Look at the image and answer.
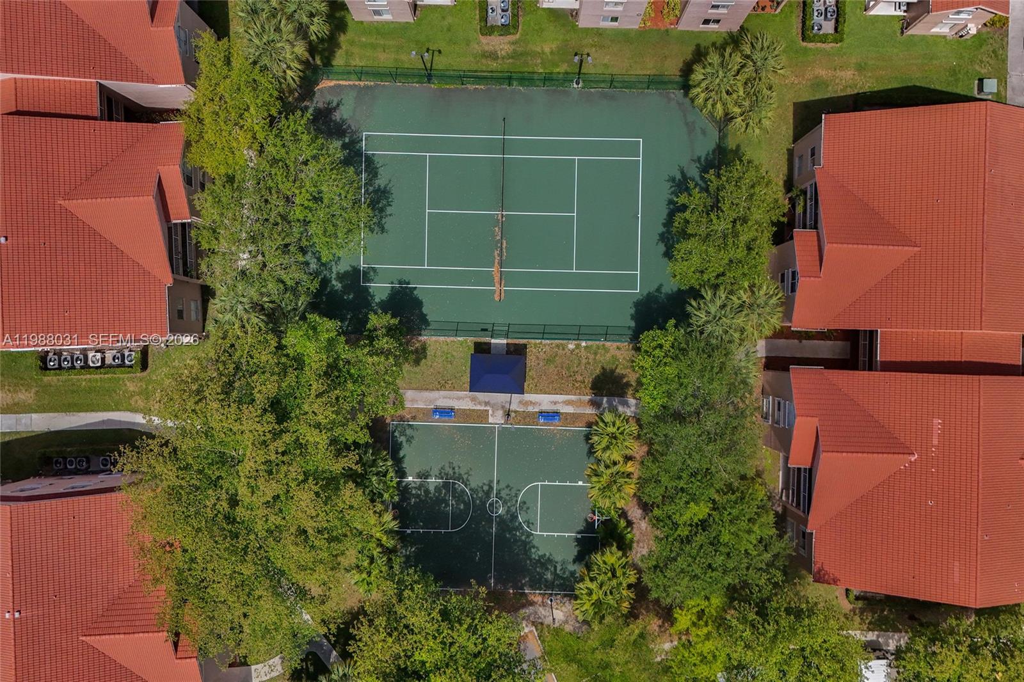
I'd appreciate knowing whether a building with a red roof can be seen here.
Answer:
Yes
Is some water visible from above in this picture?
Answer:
No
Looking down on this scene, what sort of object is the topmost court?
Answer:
tennis court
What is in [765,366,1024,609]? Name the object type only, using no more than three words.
building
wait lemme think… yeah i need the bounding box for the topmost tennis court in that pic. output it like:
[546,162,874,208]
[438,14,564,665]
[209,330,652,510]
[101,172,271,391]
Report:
[299,84,719,342]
